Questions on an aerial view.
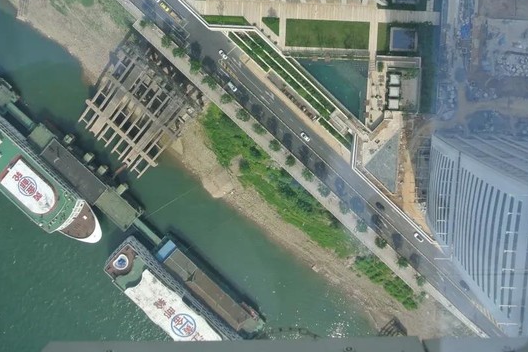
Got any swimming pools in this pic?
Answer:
Yes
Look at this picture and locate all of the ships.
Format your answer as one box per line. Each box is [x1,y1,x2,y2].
[0,114,107,241]
[101,228,259,340]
